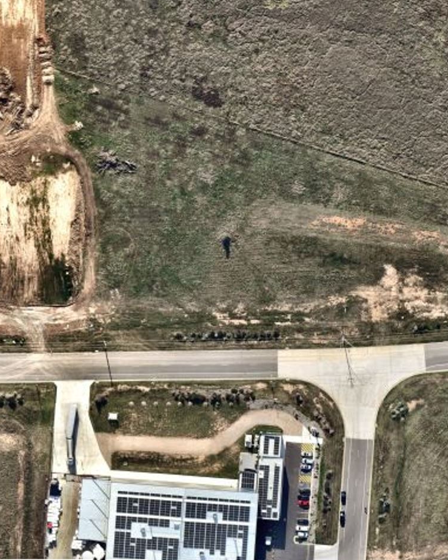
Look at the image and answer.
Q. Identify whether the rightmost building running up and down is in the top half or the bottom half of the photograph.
bottom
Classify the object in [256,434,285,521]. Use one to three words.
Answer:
building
